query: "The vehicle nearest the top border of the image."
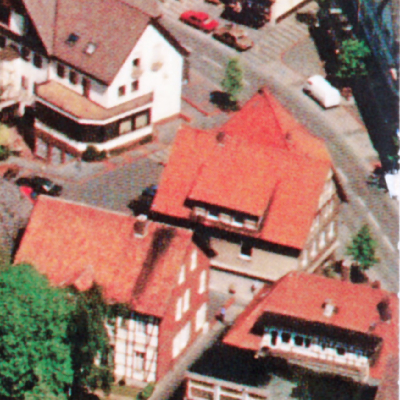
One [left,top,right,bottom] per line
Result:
[179,5,223,32]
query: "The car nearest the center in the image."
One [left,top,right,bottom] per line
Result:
[121,183,158,210]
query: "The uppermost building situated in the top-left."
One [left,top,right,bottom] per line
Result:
[0,0,181,162]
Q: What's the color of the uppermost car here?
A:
red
